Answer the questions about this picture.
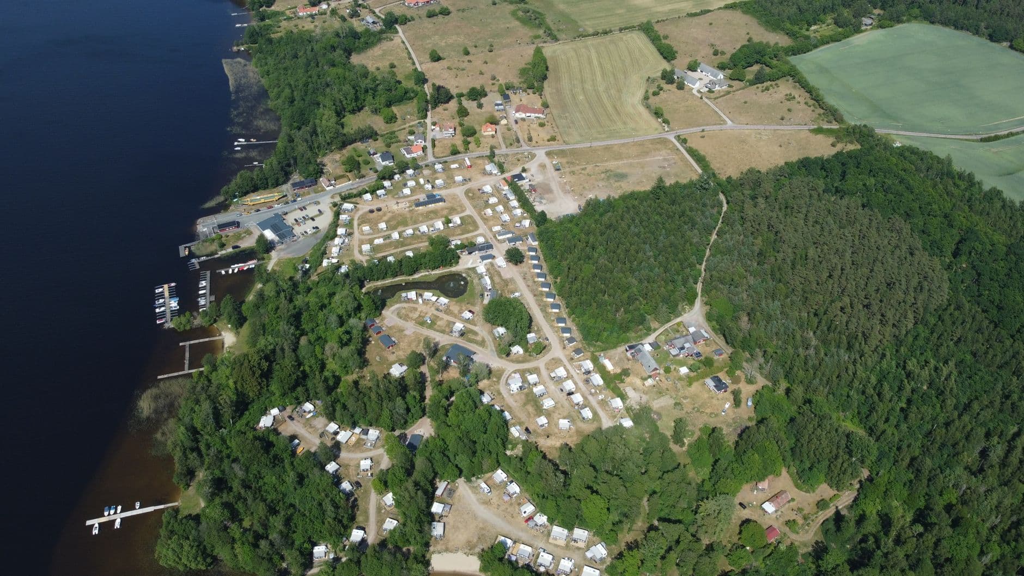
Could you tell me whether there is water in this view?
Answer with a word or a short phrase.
Yes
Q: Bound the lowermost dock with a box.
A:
[86,501,179,526]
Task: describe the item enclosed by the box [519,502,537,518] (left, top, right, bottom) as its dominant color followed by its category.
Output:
white camper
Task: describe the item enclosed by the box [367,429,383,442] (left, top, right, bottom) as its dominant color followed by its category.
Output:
white vehicle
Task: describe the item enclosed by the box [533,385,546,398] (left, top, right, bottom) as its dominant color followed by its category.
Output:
white vehicle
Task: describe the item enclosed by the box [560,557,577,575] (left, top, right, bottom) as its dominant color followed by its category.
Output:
white camper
